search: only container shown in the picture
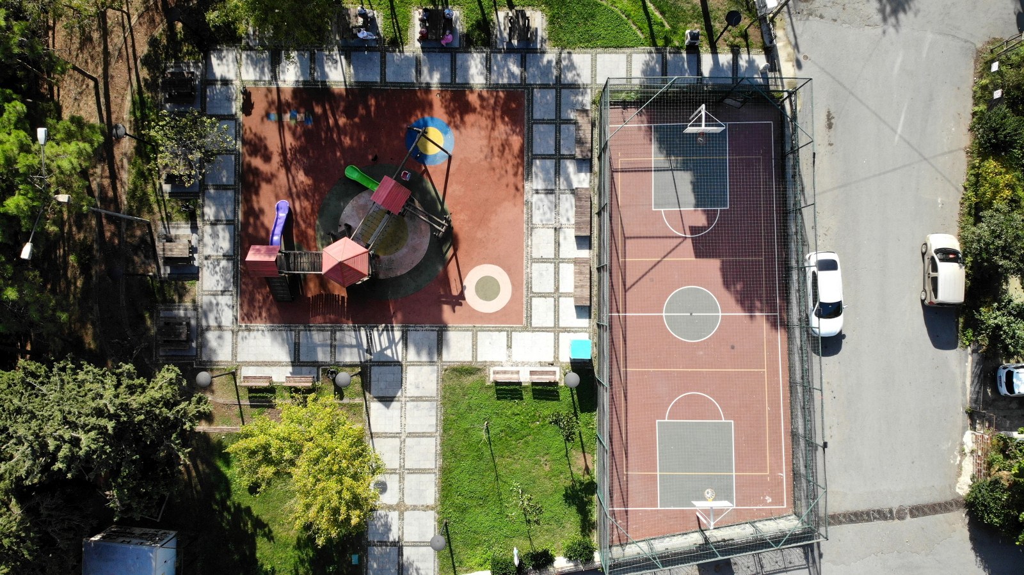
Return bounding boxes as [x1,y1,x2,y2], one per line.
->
[82,526,180,575]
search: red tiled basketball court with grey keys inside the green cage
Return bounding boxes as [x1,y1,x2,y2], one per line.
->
[607,103,794,544]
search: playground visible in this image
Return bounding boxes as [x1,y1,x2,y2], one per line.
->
[236,86,527,331]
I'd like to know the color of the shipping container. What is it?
blue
